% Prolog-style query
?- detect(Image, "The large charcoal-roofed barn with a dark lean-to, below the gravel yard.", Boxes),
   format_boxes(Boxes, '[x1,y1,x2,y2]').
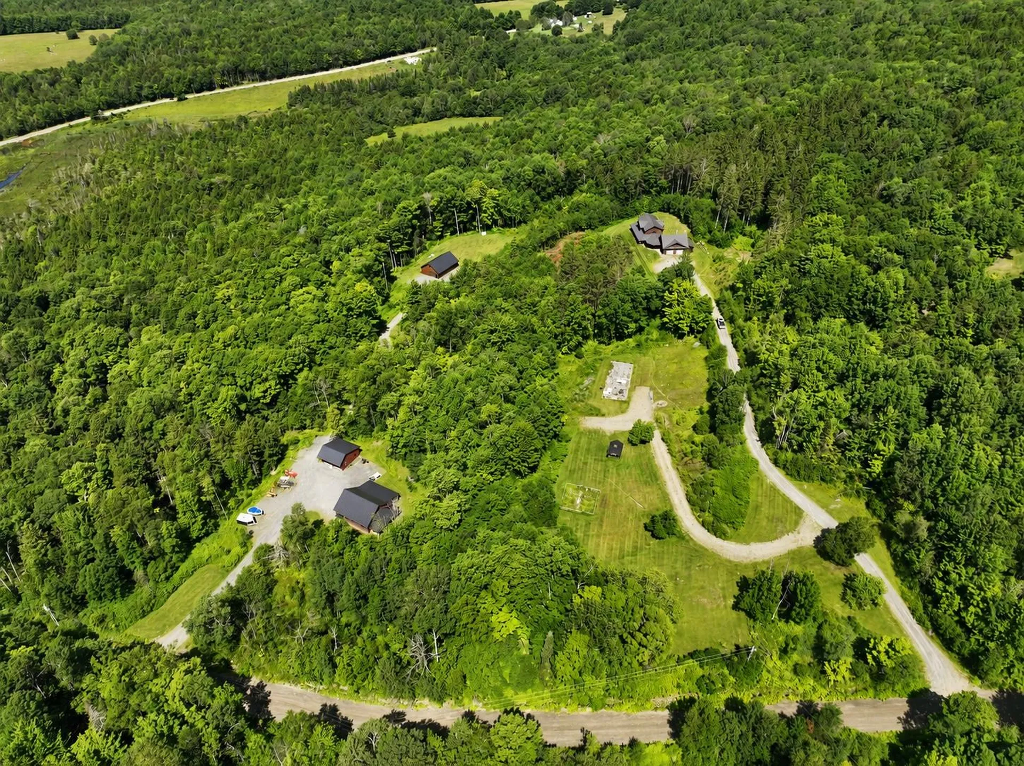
[333,480,401,535]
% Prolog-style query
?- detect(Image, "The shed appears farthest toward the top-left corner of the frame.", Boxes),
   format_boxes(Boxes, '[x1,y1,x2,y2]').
[422,252,459,280]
